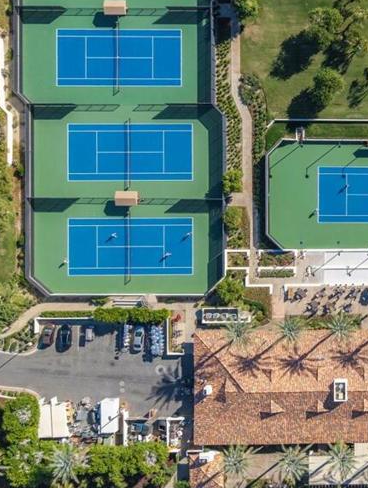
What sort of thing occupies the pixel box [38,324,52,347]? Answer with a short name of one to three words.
car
